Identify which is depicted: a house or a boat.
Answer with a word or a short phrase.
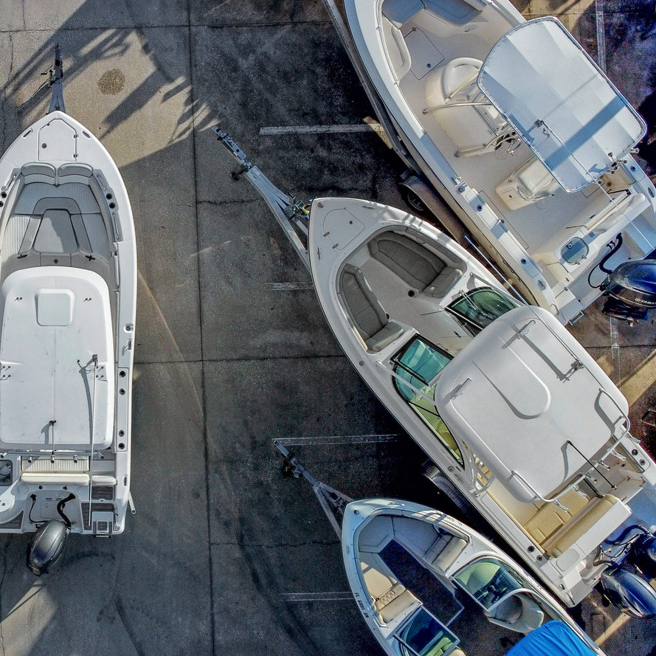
boat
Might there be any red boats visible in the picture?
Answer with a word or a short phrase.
No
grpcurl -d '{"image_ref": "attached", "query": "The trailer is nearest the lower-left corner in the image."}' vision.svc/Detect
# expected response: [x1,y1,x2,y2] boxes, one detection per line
[258,428,361,595]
